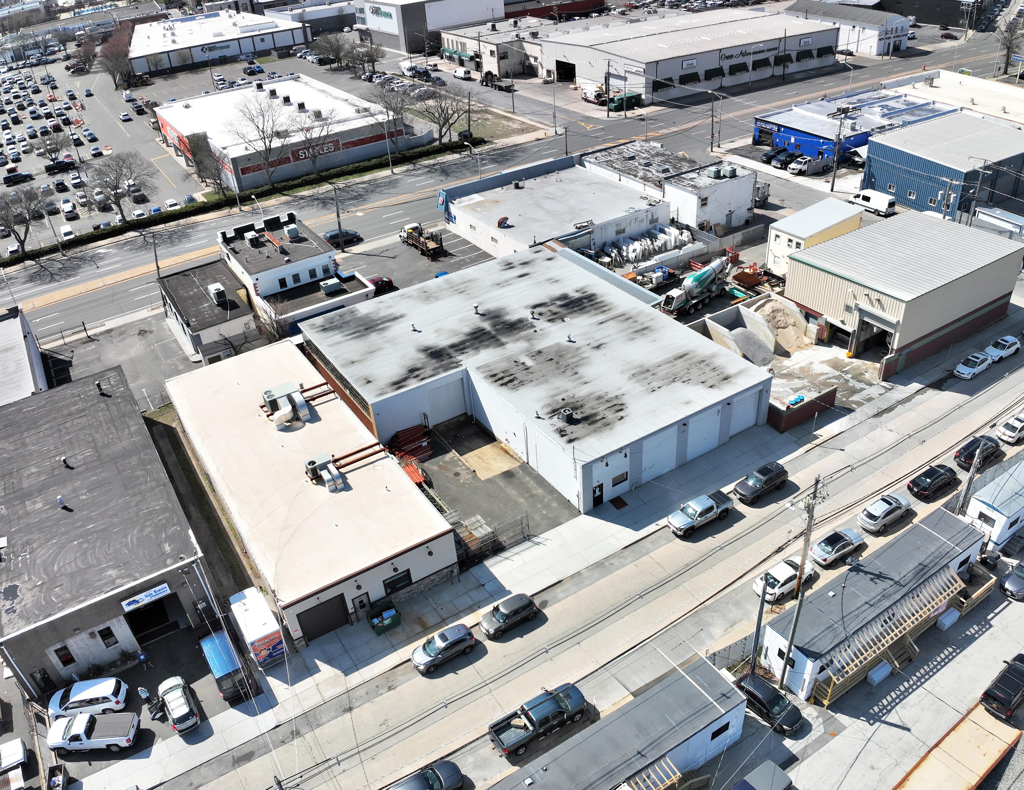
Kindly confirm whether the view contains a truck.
Yes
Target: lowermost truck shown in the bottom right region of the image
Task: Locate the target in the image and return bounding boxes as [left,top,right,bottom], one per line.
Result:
[738,764,798,790]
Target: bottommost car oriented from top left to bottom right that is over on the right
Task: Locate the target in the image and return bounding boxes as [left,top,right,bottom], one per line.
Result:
[737,671,819,742]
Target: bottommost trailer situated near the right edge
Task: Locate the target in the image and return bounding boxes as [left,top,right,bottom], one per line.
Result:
[870,699,1019,790]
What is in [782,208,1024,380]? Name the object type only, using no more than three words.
building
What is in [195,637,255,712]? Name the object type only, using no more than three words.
vehicle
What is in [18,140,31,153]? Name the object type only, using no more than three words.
vehicle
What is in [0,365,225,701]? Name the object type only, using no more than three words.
building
